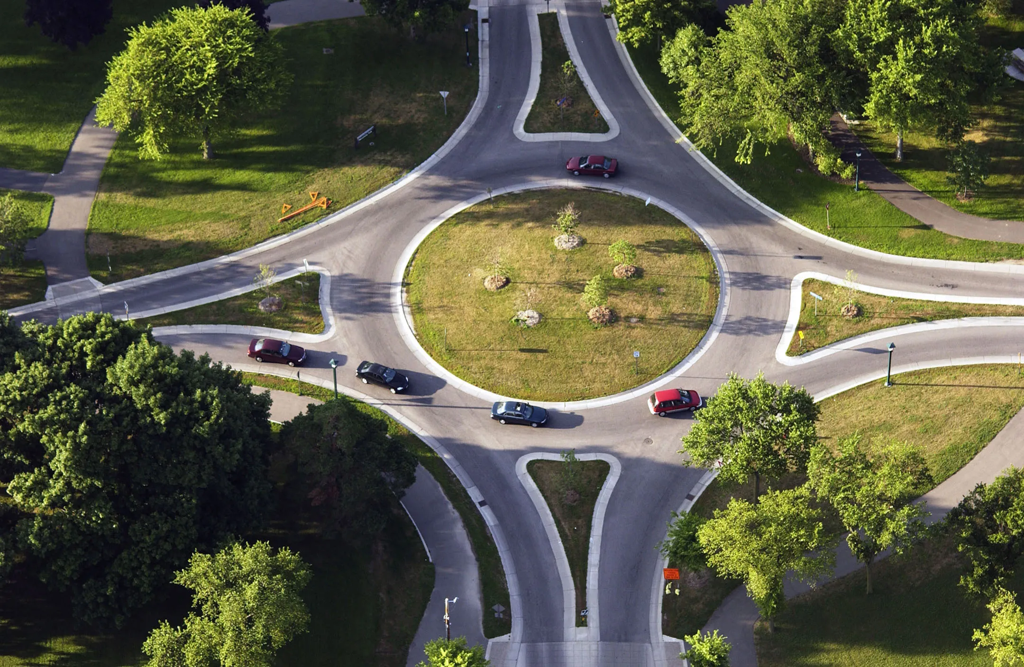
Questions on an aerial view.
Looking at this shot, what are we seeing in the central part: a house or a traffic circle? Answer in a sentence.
The one visible in the central part is a traffic circle.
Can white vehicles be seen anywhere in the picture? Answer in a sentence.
No, the frame has no white vehicle in it.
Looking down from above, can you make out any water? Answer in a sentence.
No, water can't be seen anywhere here.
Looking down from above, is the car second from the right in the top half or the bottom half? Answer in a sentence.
The car second from the right sits in the top half of the picture.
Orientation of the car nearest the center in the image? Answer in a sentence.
The car nearest the center is oriented horizontally.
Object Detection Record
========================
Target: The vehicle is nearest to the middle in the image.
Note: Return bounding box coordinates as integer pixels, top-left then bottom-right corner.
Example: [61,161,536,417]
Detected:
[489,399,550,427]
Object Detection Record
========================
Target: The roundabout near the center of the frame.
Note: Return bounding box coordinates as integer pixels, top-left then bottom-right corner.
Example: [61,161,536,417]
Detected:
[338,146,784,450]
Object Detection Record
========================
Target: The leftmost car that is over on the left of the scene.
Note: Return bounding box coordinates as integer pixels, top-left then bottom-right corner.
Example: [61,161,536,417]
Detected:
[246,338,308,367]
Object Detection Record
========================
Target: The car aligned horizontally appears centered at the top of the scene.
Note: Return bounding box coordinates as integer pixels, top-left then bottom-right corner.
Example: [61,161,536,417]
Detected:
[566,153,619,178]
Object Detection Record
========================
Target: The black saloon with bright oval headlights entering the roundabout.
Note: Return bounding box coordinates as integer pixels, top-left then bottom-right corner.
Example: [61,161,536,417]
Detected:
[353,360,413,394]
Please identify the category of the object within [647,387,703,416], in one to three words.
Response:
car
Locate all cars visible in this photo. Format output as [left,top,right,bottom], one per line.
[489,399,550,427]
[246,338,308,367]
[647,387,703,416]
[566,153,619,178]
[353,360,413,394]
